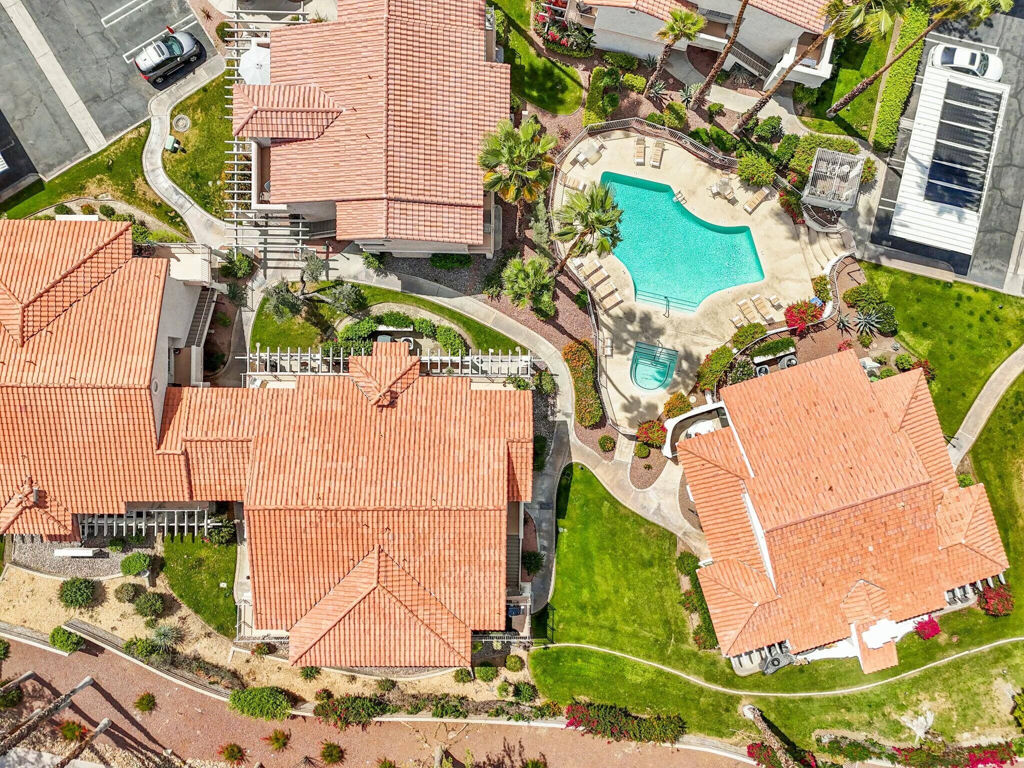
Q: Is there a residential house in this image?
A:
Yes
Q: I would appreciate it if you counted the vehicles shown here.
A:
2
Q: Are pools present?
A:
Yes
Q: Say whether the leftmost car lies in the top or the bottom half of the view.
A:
top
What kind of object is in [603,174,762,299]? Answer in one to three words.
swimming pool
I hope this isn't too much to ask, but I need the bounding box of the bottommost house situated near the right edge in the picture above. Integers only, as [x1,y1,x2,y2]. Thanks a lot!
[655,349,1012,673]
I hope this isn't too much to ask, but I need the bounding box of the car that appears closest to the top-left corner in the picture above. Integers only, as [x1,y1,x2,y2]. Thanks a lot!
[127,26,202,82]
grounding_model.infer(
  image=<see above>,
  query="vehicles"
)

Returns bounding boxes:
[920,42,1000,81]
[127,26,202,82]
